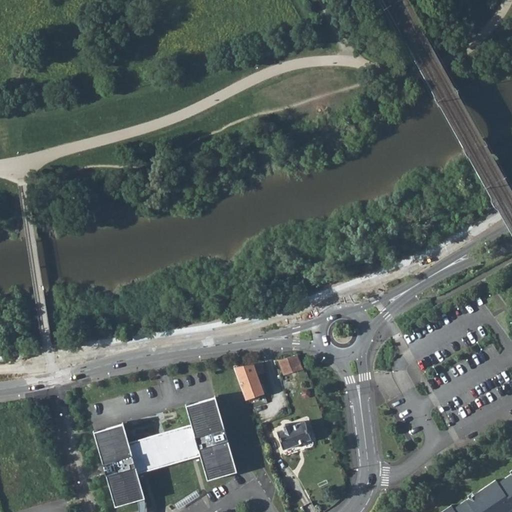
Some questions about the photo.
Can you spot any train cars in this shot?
No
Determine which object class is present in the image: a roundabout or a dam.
roundabout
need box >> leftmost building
[94,422,145,508]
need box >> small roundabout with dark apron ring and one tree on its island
[314,306,371,362]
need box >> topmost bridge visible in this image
[389,0,512,236]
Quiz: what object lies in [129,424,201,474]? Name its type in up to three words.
building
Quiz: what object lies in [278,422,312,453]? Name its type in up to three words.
house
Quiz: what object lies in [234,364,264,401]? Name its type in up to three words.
house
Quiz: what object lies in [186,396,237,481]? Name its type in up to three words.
building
